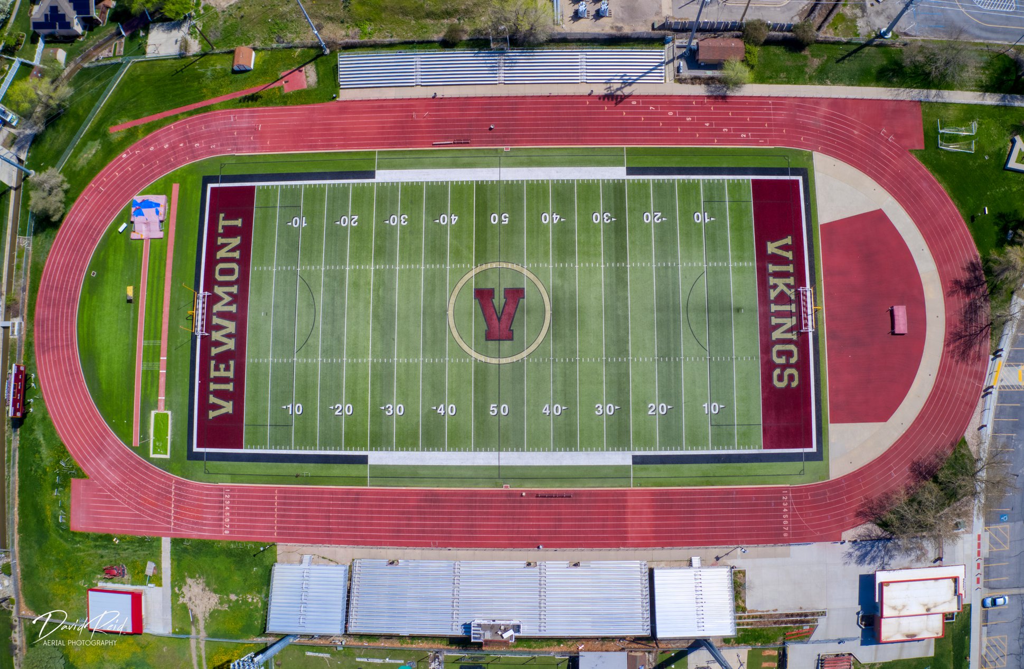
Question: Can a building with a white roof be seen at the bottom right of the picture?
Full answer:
Yes, the scene does show a building with a white roof at the bottom right of the picture.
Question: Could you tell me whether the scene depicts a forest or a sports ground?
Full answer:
What you see here is a sports ground.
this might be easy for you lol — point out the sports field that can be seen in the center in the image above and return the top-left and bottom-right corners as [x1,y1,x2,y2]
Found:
[244,179,762,452]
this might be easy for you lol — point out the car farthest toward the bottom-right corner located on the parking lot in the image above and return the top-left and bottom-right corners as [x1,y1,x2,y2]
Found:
[983,595,1012,610]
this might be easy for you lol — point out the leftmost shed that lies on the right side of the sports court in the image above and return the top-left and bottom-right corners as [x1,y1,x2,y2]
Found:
[231,44,254,71]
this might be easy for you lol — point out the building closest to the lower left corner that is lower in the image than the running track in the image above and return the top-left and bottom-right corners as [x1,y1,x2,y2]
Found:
[87,586,145,633]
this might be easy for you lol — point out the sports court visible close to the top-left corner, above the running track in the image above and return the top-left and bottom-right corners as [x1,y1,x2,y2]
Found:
[146,19,187,54]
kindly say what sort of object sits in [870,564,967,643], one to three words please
building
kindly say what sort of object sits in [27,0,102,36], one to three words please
house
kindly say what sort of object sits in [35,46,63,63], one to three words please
shed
